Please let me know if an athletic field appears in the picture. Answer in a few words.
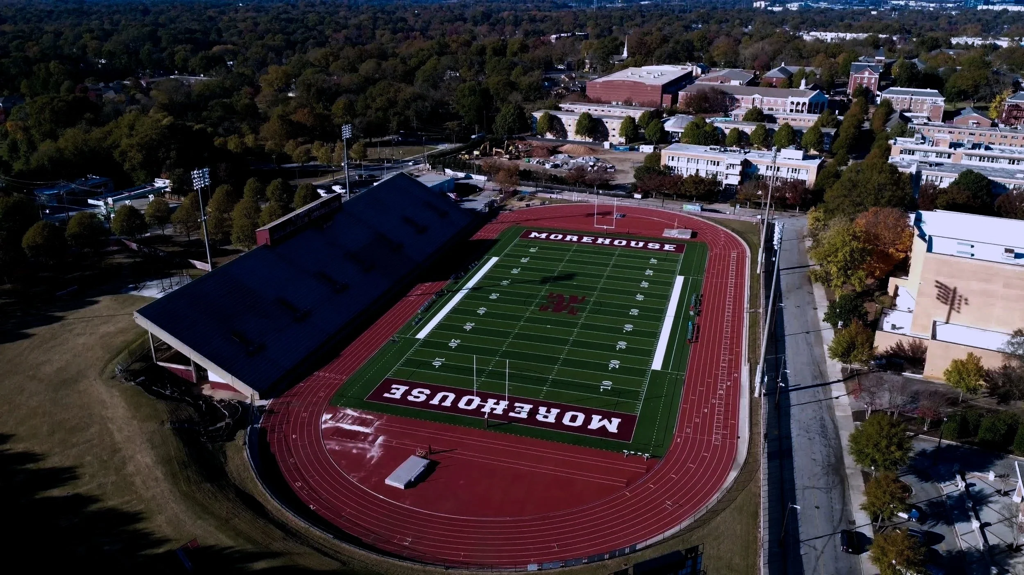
Yes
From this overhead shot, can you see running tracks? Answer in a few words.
Yes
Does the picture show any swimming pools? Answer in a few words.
No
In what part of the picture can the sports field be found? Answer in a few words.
center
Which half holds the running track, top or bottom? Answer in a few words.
bottom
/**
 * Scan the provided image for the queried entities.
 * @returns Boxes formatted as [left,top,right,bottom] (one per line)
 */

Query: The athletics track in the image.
[263,205,747,565]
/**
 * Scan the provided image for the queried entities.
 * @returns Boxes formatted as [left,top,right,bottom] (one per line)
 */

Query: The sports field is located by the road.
[332,226,707,457]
